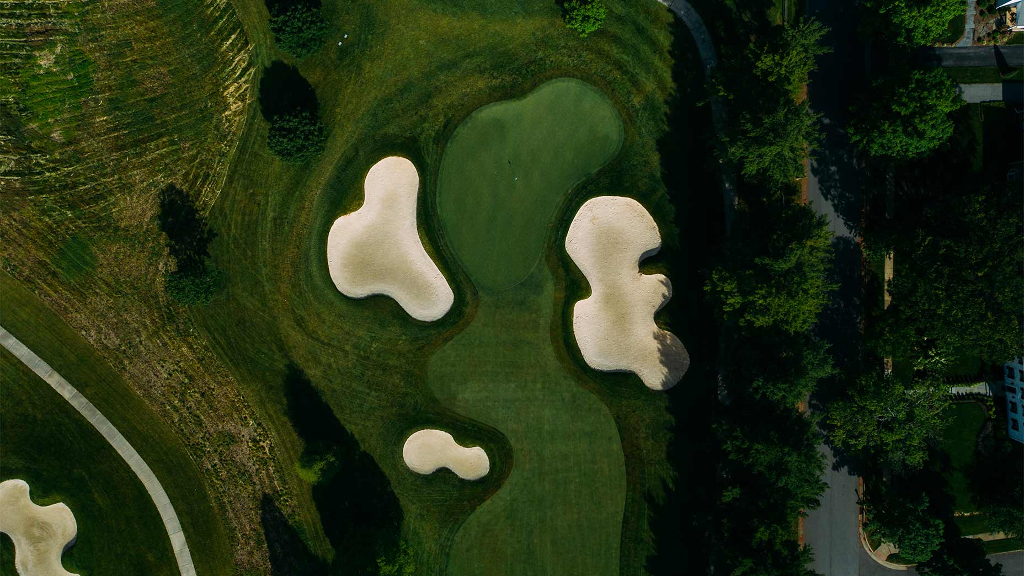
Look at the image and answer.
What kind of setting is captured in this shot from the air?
golf course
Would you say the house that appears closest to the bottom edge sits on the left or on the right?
right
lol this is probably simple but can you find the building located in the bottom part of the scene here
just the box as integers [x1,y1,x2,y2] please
[990,360,1024,443]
